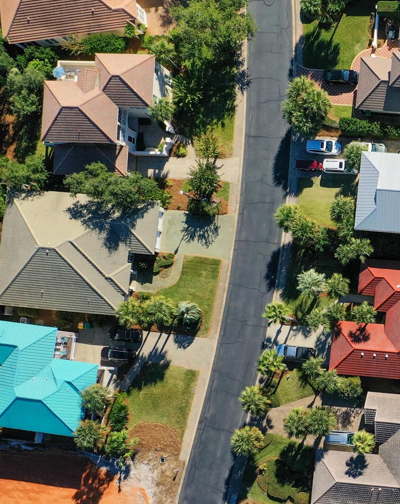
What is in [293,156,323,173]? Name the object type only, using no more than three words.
vehicle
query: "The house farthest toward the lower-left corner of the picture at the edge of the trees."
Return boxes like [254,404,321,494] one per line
[0,320,126,445]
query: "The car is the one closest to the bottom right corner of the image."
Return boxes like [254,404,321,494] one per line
[324,430,357,447]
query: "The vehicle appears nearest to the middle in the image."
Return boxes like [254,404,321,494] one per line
[110,326,147,342]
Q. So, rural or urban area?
urban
